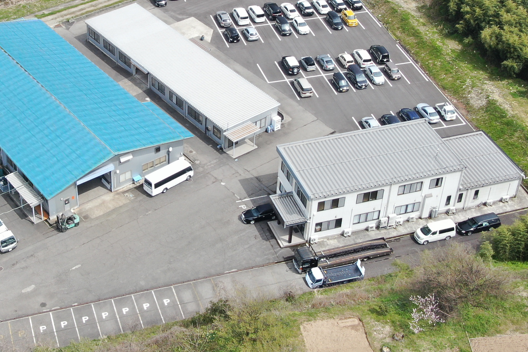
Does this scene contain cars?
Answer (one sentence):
Yes, I can see a car in this picture.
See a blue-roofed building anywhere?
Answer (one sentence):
Yes, this view includes a blue-roofed building.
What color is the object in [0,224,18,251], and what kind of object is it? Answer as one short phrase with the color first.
white vehicle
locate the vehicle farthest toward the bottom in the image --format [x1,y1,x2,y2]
[305,263,370,291]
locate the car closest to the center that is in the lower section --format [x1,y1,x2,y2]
[237,205,277,226]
